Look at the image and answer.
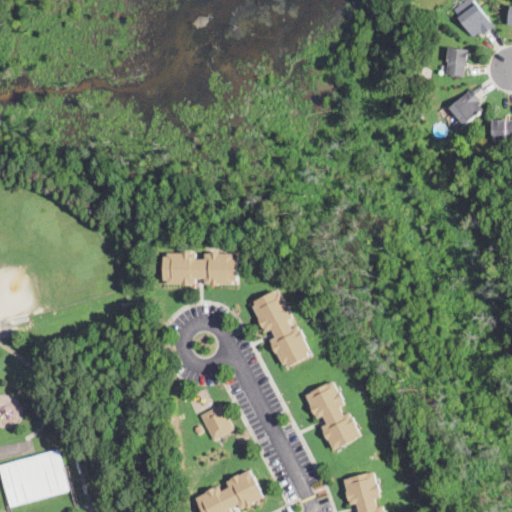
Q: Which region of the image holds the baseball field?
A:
left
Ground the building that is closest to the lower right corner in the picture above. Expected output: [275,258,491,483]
[344,472,388,512]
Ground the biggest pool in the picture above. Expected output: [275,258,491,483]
[433,121,449,138]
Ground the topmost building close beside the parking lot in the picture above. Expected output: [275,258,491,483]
[162,250,240,288]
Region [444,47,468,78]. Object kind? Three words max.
house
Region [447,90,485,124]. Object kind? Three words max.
house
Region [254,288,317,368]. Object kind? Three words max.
building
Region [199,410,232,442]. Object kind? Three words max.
building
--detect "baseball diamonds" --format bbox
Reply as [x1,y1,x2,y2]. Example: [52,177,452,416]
[0,188,125,332]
